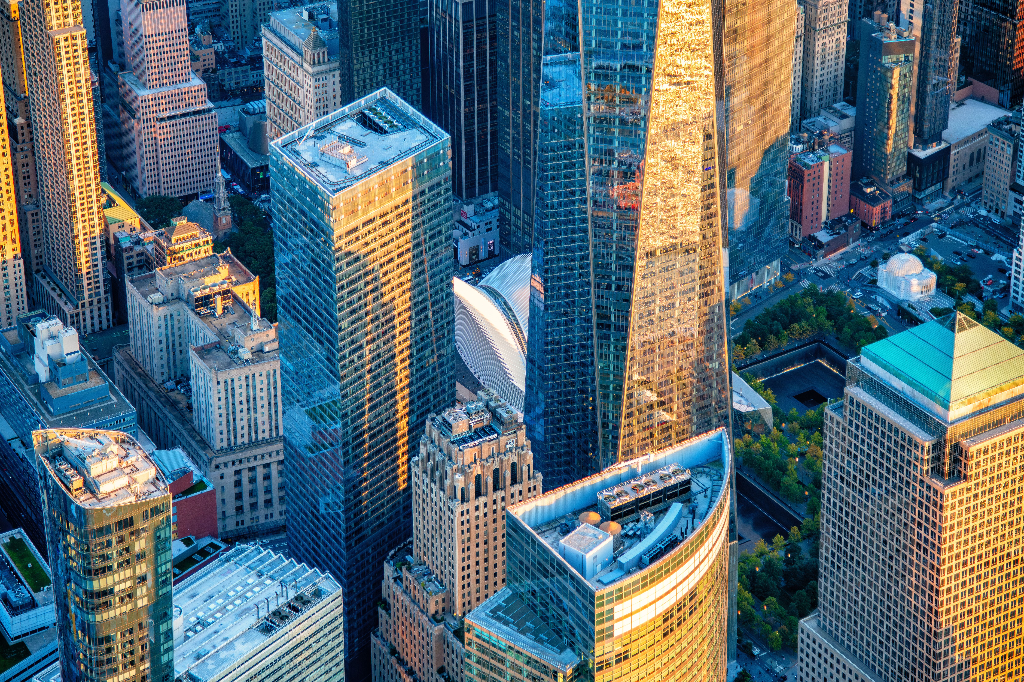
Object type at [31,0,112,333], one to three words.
building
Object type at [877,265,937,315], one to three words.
building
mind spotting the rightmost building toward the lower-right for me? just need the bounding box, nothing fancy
[791,318,1024,682]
